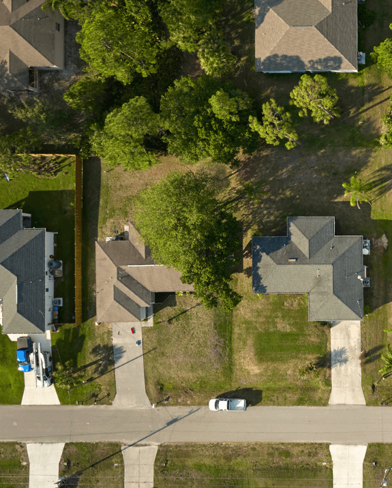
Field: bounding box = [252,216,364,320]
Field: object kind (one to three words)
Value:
house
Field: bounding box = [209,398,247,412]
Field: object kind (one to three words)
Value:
vehicle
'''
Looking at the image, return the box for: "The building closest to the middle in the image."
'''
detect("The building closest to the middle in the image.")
[94,219,192,323]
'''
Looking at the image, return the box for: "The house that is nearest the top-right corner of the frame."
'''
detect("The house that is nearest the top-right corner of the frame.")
[254,0,359,75]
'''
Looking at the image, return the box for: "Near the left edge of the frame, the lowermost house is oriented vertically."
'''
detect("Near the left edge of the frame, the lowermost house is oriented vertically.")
[0,209,55,335]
